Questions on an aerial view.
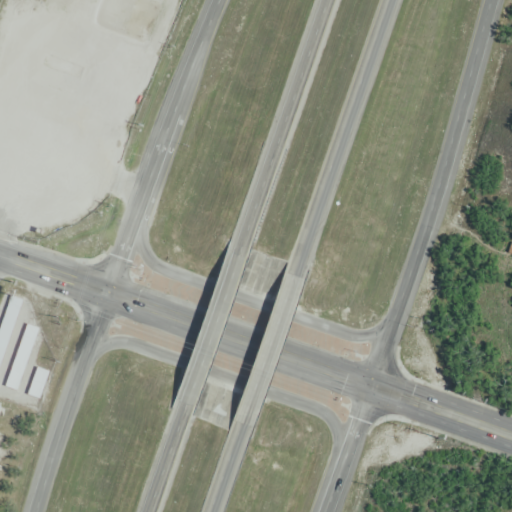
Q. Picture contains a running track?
No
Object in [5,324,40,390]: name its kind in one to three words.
shed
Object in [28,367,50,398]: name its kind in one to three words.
shed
